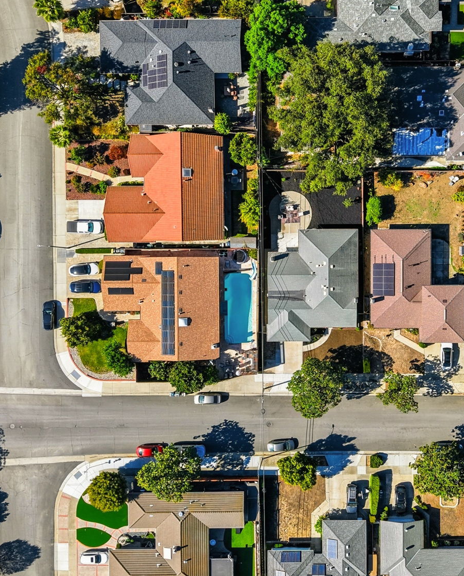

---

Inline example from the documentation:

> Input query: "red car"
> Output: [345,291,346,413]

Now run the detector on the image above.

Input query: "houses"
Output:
[99,20,241,126]
[268,517,367,576]
[370,229,464,343]
[109,490,244,576]
[380,517,464,576]
[103,133,225,242]
[267,229,358,342]
[100,256,219,363]
[392,67,464,161]
[315,0,453,55]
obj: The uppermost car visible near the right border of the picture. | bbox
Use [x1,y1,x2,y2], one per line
[440,343,454,370]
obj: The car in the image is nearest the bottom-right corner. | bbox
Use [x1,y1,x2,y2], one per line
[394,482,407,512]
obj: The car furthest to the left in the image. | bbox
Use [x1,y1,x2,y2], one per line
[41,300,57,330]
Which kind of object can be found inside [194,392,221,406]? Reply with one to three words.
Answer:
vehicle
